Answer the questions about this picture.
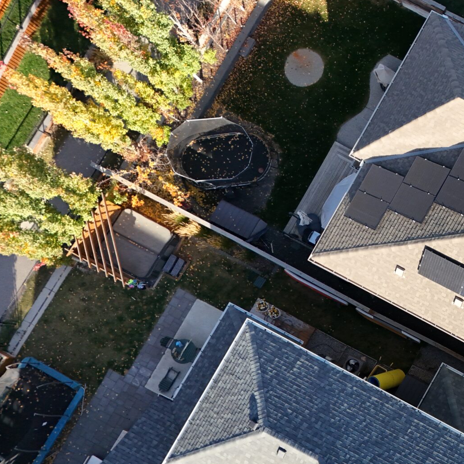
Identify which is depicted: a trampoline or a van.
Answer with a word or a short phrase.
trampoline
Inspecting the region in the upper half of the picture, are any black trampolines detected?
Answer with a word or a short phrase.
Yes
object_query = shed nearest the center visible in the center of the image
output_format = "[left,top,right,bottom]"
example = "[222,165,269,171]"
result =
[212,197,268,243]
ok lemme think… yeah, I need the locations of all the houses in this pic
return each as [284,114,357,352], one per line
[306,8,464,345]
[111,301,464,464]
